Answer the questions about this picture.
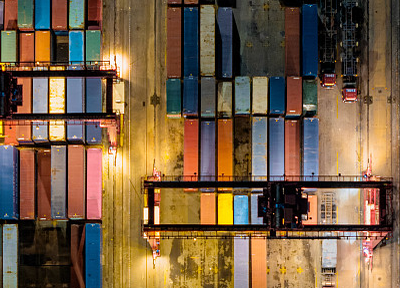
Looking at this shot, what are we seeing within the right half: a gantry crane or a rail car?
gantry crane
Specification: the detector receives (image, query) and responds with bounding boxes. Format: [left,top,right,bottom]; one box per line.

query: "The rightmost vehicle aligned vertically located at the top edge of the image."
[340,6,357,104]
